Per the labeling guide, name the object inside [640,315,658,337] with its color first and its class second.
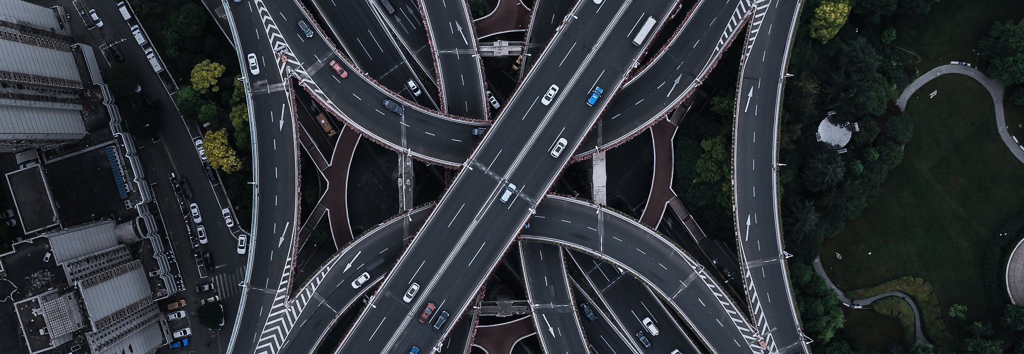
white car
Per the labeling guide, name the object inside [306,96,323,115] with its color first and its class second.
black car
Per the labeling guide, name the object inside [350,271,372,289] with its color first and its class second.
white car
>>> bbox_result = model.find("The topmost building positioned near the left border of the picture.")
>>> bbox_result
[0,0,92,150]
